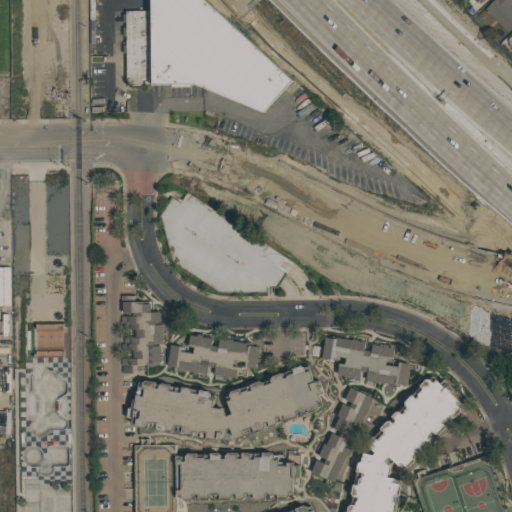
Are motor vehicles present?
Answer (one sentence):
Yes, a motor vehicle appears in the view.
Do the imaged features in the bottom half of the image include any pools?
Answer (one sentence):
Yes, I can see a pool in the bottom half of the image.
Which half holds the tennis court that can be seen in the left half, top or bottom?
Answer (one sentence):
It is in the bottom half that the tennis court that can be seen in the left half appears.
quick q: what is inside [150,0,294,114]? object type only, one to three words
warehouse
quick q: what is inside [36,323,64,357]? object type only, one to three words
building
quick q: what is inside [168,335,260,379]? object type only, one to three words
house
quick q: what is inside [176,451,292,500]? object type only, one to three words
building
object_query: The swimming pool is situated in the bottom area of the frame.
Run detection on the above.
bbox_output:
[285,417,314,444]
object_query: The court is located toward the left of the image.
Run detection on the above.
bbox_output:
[134,440,177,512]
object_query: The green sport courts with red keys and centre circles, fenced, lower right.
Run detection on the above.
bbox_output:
[418,460,506,512]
